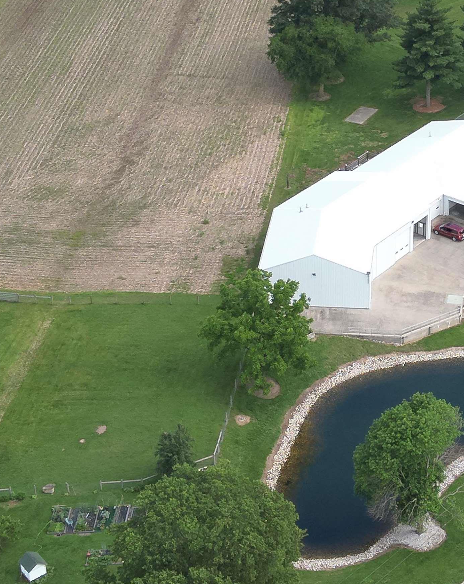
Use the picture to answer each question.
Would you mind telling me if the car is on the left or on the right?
right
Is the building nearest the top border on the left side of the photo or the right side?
right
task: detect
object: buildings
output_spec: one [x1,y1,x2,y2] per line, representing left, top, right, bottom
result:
[257,118,464,309]
[19,550,47,580]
